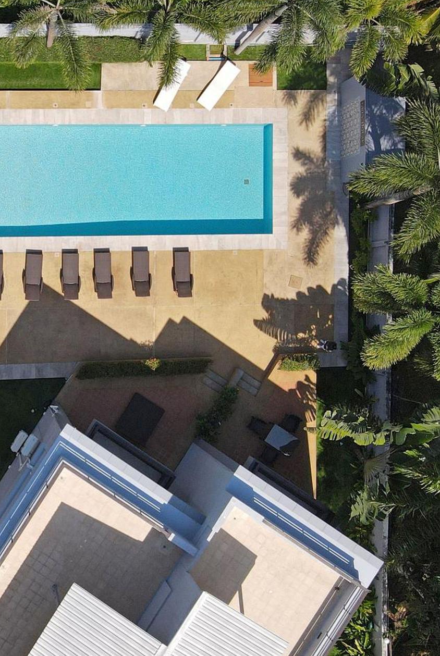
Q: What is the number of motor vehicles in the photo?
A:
none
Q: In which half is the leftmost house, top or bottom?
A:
bottom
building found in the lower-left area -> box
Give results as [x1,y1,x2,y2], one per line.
[0,400,205,656]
